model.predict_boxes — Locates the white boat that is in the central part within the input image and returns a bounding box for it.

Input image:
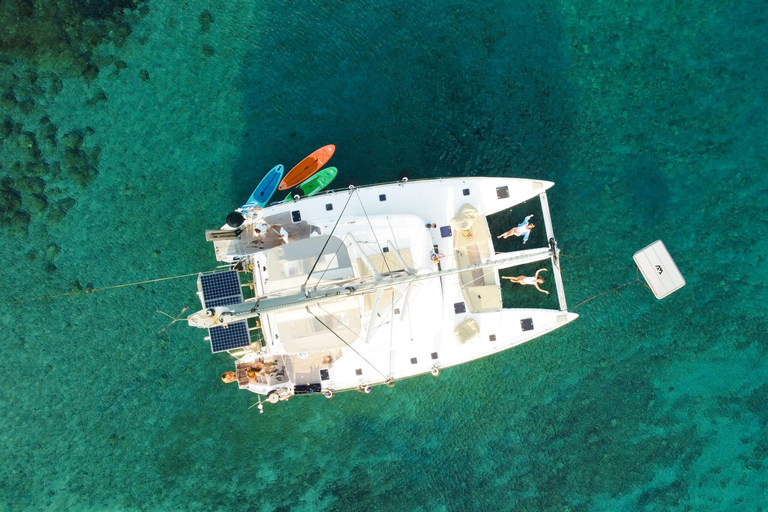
[149,177,578,413]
